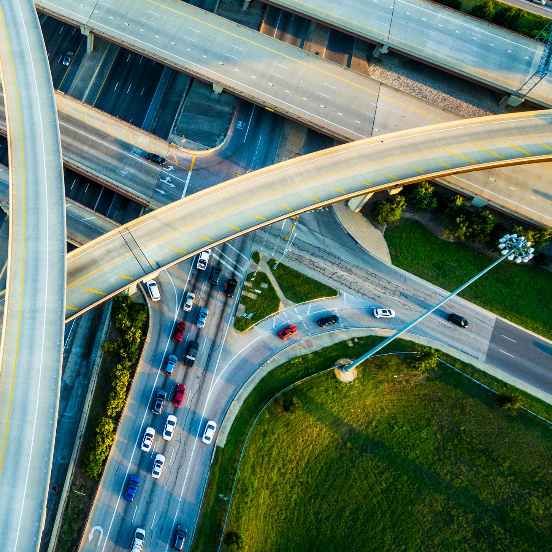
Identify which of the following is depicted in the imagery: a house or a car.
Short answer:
car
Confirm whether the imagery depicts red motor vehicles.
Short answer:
Yes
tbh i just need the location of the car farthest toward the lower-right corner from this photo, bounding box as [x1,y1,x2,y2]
[445,312,471,331]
